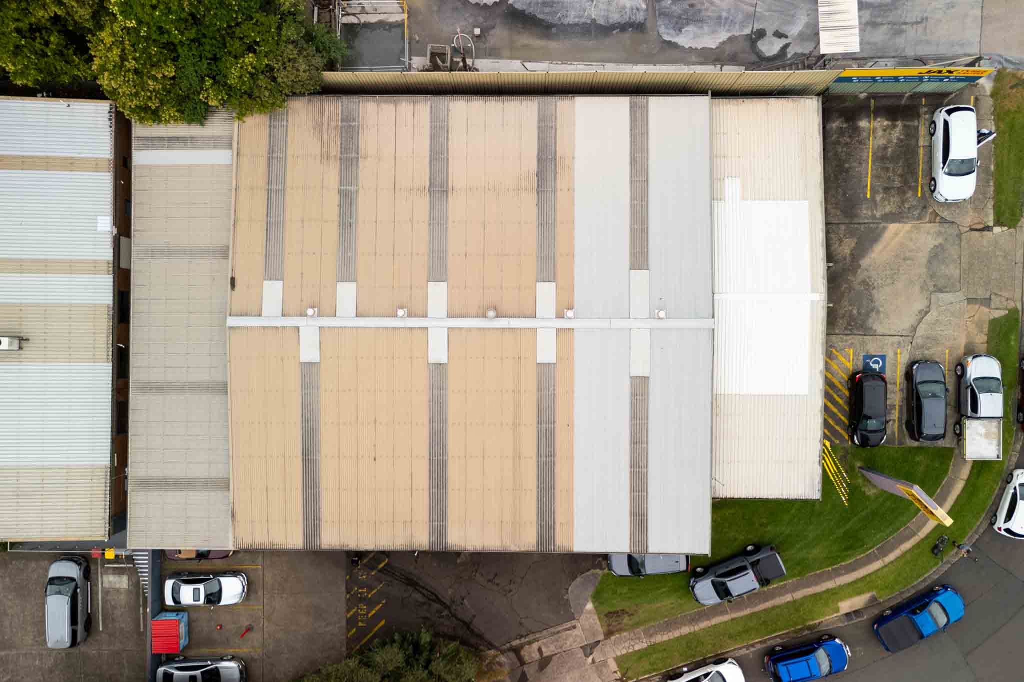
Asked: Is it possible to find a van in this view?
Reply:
Yes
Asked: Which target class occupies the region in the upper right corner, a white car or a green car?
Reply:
white car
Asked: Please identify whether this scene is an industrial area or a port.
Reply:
industrial area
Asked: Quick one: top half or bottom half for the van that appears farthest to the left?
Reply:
bottom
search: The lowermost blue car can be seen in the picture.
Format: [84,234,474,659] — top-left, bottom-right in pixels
[757,627,848,682]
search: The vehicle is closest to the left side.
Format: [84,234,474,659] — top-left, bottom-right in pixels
[43,554,93,649]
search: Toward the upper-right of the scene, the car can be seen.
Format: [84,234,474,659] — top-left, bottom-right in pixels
[926,106,997,206]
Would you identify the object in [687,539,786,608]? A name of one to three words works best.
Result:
truck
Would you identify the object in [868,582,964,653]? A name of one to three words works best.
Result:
truck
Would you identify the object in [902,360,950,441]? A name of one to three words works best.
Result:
car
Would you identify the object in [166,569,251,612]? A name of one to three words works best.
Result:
car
